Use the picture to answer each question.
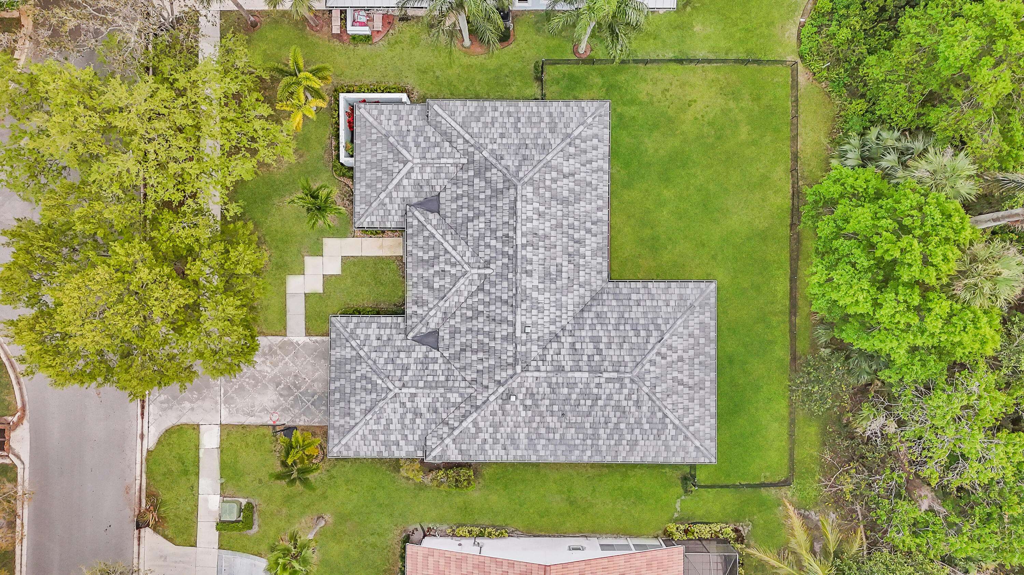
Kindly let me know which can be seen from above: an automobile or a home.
home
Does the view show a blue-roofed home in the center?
No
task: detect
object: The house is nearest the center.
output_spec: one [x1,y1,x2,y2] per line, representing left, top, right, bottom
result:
[329,100,716,464]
